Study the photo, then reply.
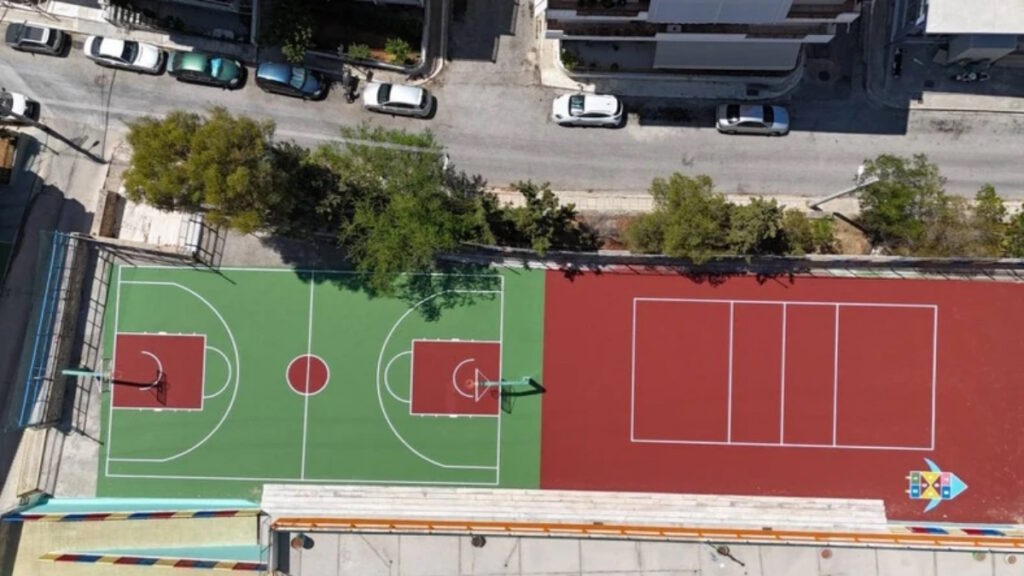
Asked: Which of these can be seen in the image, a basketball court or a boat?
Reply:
basketball court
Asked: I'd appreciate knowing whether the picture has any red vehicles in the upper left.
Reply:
No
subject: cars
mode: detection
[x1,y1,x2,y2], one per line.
[552,89,622,127]
[364,78,433,118]
[167,48,247,89]
[2,16,71,58]
[0,88,37,125]
[83,35,168,77]
[717,101,786,137]
[255,60,327,101]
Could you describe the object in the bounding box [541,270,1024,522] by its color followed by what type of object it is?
red sports court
